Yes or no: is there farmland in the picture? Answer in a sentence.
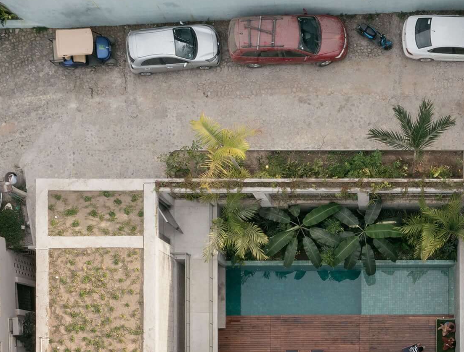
No, there's no farmland in this view.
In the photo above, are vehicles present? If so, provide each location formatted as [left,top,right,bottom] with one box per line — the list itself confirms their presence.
[402,17,464,66]
[126,21,224,75]
[359,21,392,49]
[230,12,347,71]
[50,23,116,68]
